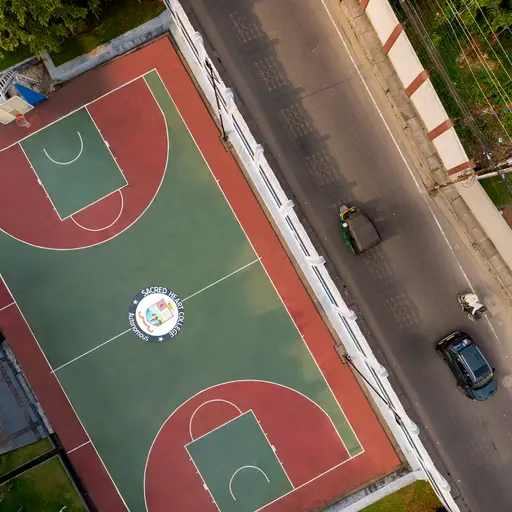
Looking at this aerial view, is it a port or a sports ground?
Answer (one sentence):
The picture captures a sports ground.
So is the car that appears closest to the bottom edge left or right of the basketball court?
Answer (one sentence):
From the viewer's perspective, the car that appears closest to the bottom edge falls to the right of the basketball court.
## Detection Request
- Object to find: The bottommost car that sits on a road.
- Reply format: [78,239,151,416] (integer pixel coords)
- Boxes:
[434,335,494,404]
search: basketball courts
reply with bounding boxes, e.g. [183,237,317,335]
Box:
[0,36,402,512]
